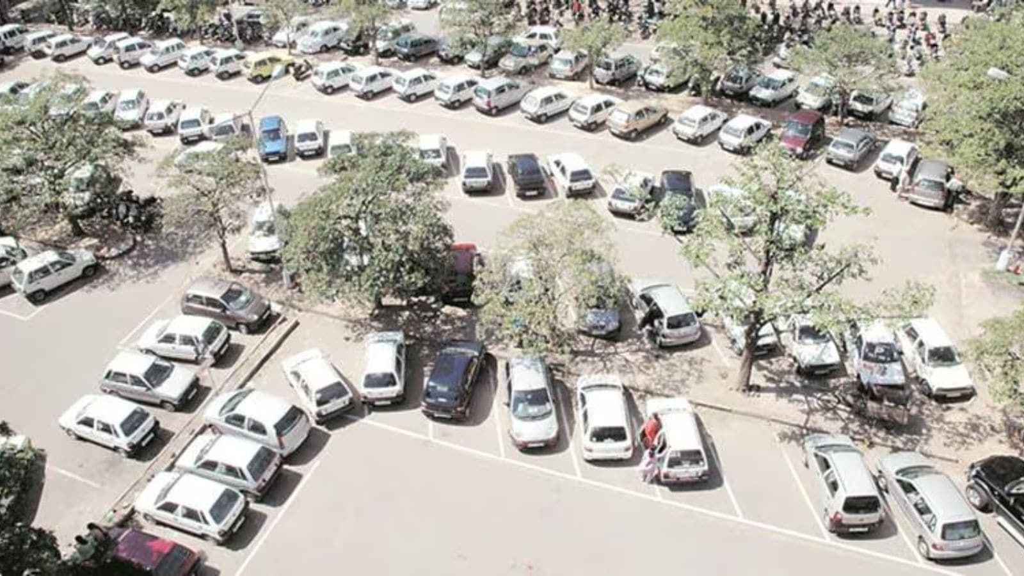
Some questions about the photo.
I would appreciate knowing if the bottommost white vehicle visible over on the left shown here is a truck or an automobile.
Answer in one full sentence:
It turns out the bottommost white vehicle visible over on the left is an automobile.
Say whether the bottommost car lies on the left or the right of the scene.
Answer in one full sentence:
You can find the bottommost car on the left side of the picture.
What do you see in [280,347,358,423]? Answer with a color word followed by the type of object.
white car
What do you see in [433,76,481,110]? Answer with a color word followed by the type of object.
white car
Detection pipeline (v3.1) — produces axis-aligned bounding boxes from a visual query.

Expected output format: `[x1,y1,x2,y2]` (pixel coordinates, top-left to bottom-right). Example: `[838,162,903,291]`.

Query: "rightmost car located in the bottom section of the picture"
[959,457,1024,535]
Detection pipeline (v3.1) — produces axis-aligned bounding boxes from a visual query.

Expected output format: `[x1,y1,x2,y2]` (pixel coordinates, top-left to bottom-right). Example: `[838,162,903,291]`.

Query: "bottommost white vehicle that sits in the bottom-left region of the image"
[133,469,251,545]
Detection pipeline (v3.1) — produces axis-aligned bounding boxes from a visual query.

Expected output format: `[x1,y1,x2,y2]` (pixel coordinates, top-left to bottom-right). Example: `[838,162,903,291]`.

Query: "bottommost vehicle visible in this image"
[88,522,207,576]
